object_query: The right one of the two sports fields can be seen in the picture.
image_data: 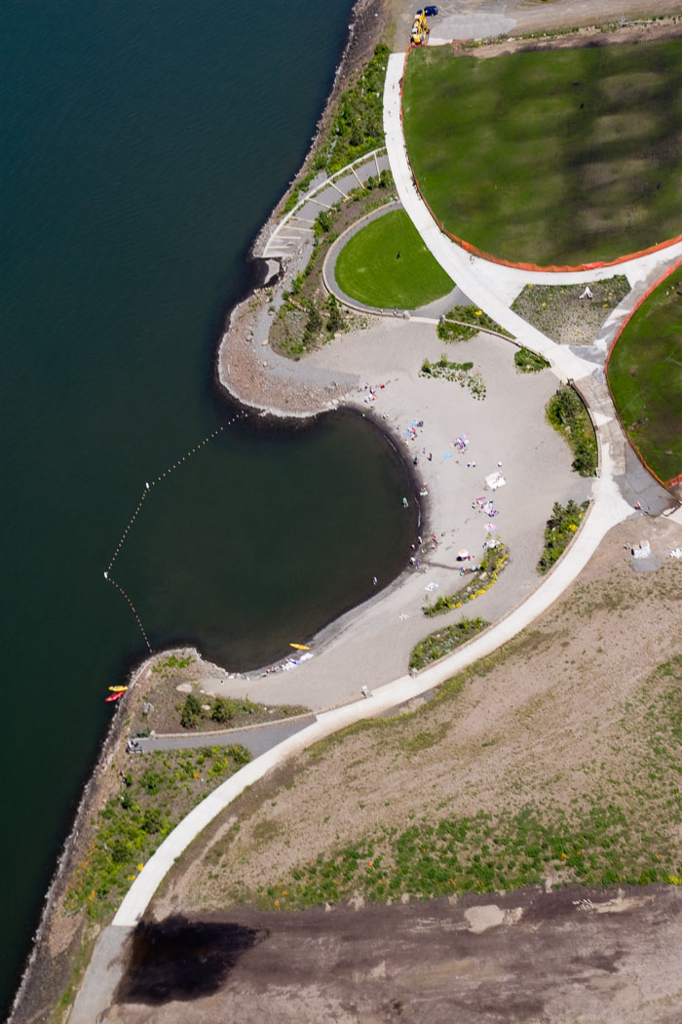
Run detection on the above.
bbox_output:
[612,262,682,483]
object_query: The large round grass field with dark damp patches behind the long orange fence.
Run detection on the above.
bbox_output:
[404,38,682,270]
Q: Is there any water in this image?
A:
Yes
